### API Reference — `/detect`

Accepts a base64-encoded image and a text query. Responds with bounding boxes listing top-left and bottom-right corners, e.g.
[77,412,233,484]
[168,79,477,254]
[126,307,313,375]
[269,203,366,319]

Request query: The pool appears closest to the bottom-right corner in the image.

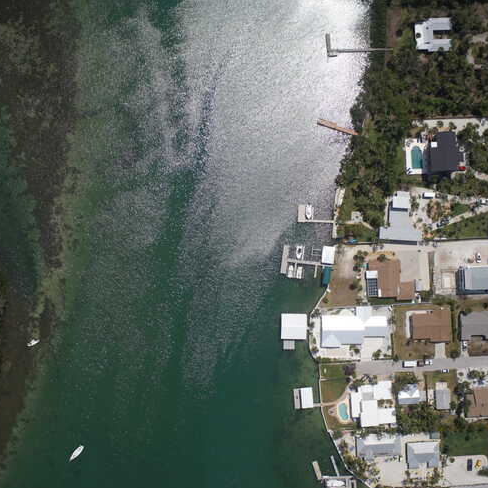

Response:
[336,397,351,423]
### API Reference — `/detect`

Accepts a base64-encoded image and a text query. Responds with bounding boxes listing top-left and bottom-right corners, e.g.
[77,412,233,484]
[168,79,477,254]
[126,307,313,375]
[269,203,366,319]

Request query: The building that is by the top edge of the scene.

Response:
[413,17,452,54]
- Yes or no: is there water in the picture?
Yes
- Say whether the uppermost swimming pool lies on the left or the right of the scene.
right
